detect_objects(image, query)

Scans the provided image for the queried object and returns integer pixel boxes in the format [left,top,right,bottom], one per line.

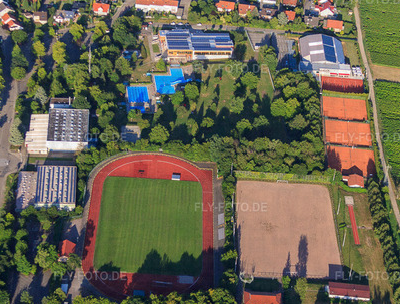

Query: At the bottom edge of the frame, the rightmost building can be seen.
[325,283,371,302]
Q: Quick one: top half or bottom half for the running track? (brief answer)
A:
bottom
